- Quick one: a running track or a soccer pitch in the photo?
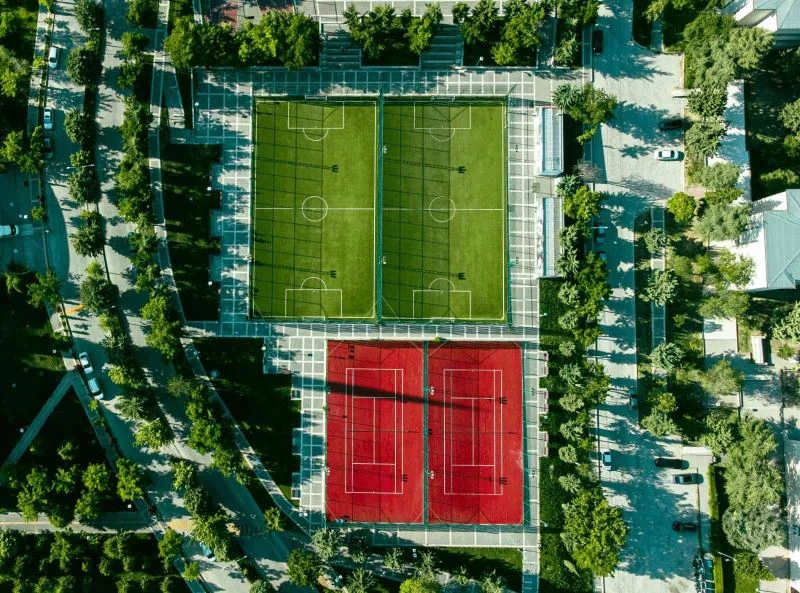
soccer pitch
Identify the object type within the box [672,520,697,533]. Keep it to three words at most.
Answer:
vehicle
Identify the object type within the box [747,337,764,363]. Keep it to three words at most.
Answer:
shed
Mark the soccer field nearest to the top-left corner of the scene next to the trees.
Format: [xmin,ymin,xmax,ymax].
[250,95,376,321]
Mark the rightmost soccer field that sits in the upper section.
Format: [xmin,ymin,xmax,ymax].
[380,96,511,322]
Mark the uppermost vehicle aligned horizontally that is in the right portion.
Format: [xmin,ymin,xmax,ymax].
[657,117,681,130]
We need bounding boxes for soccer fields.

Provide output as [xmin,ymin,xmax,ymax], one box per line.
[250,95,376,321]
[380,96,511,322]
